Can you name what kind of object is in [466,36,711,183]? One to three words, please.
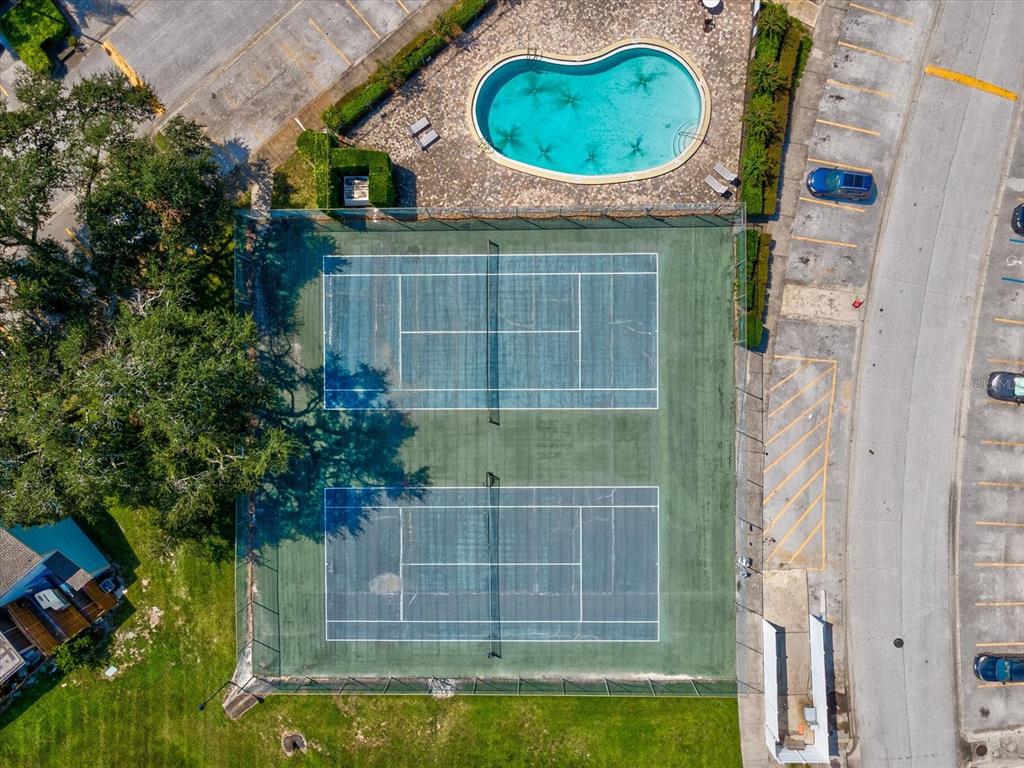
swimming pool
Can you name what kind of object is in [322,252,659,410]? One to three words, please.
tennis court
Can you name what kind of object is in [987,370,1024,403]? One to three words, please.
car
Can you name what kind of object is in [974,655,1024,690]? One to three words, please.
car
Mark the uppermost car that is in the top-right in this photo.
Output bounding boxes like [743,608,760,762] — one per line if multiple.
[804,164,874,201]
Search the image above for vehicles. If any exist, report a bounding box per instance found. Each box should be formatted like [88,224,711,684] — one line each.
[974,655,1024,690]
[804,164,874,201]
[987,370,1024,403]
[1012,206,1024,234]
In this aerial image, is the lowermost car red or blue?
blue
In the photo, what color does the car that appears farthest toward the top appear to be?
blue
